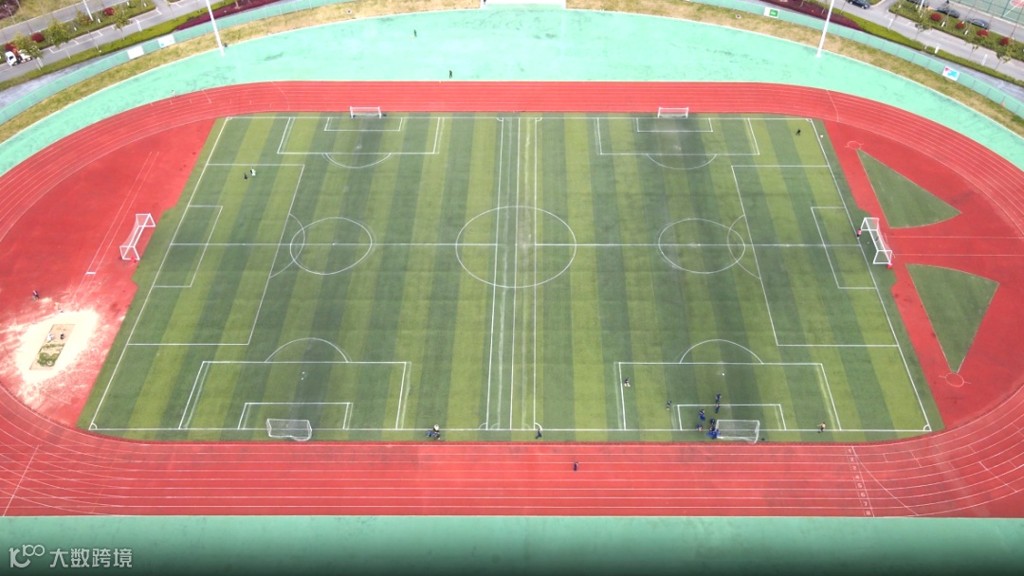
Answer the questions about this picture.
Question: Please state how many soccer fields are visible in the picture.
3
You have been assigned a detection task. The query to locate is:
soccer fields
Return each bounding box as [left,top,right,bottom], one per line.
[180,118,512,430]
[77,112,945,443]
[523,118,840,430]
